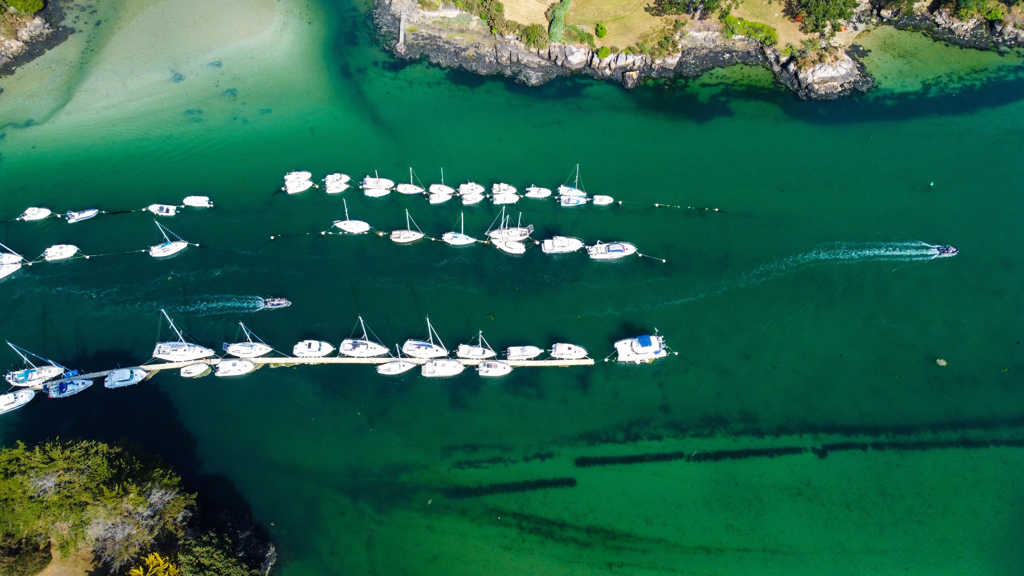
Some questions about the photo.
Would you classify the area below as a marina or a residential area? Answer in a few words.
marina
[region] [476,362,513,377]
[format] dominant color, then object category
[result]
white boat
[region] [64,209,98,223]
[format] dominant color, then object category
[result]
white boat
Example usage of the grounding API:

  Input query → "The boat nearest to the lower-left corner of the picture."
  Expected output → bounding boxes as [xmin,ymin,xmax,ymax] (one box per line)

[0,389,35,412]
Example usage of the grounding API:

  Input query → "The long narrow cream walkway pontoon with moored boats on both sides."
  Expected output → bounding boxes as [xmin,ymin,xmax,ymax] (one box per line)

[7,357,593,393]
